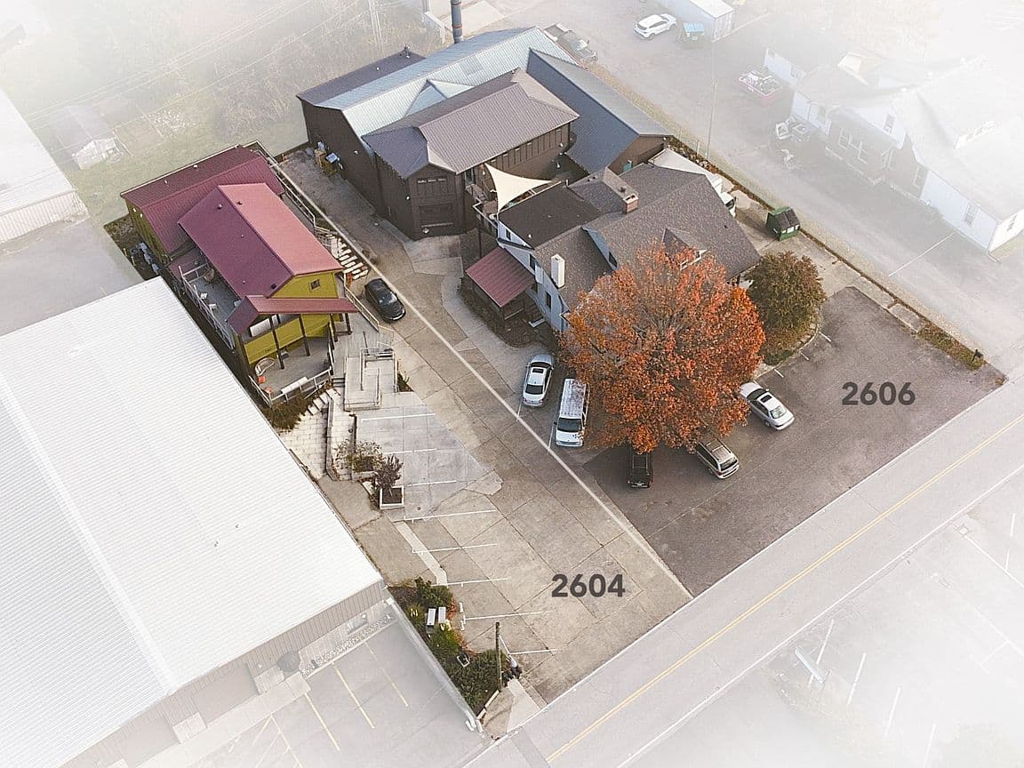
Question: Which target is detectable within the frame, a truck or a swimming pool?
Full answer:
Of the two, only a truck appears.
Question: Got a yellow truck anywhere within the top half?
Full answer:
No, there is no yellow truck within the top half.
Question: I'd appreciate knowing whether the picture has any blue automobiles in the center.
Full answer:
No, no blue automobile can be made out in the center.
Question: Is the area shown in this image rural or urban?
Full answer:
The land in this view is best described as urban.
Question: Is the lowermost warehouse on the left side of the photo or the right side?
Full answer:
The lowermost warehouse appears in the left half of the scene.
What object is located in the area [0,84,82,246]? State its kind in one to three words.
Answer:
building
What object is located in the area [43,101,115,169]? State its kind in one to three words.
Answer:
shed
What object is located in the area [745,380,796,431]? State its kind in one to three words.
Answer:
car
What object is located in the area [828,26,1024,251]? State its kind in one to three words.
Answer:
house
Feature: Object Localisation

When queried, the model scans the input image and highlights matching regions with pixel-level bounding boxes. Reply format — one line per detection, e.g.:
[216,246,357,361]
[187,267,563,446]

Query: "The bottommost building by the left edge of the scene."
[0,278,386,768]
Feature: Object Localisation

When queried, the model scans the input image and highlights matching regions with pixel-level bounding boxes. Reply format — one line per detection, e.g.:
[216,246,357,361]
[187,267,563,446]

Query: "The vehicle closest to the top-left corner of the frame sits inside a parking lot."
[366,276,408,321]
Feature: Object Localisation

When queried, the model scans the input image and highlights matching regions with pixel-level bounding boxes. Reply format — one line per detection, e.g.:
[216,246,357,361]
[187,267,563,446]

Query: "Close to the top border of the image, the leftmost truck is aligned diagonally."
[544,25,593,61]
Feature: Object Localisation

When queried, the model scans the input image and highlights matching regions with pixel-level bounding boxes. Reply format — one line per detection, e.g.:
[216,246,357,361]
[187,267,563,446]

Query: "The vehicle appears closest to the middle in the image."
[522,354,554,406]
